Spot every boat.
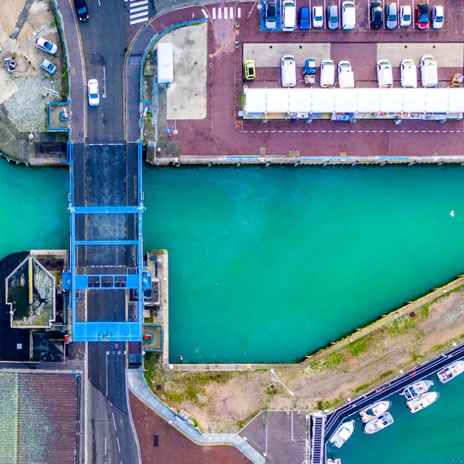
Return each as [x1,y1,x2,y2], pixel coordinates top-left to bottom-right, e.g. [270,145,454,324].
[326,455,341,464]
[403,391,439,413]
[401,381,434,400]
[329,421,355,447]
[364,410,395,432]
[357,401,393,422]
[435,362,464,383]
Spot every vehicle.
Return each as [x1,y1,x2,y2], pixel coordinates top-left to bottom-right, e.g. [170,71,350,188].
[37,58,59,76]
[341,1,356,31]
[420,54,438,87]
[87,79,100,108]
[370,0,384,29]
[311,5,324,28]
[431,4,445,30]
[320,59,336,87]
[416,2,430,30]
[326,4,340,30]
[377,59,396,87]
[282,0,297,32]
[385,2,399,30]
[265,2,277,30]
[243,59,256,81]
[298,5,311,31]
[451,74,464,84]
[400,59,418,87]
[398,4,412,27]
[304,58,316,82]
[281,54,297,87]
[338,60,356,87]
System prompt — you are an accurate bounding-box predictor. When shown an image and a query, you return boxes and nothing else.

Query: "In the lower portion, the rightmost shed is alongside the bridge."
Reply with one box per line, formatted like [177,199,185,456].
[145,278,160,305]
